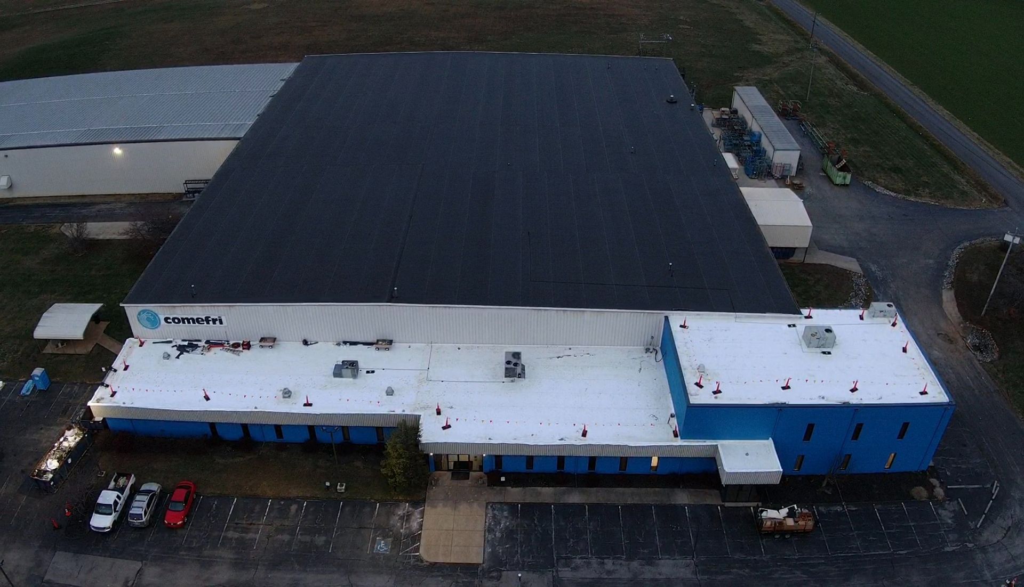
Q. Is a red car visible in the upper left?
No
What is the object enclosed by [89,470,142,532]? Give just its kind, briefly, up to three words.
truck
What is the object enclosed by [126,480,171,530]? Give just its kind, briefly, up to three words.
car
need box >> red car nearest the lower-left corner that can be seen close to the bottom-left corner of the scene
[161,478,200,528]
